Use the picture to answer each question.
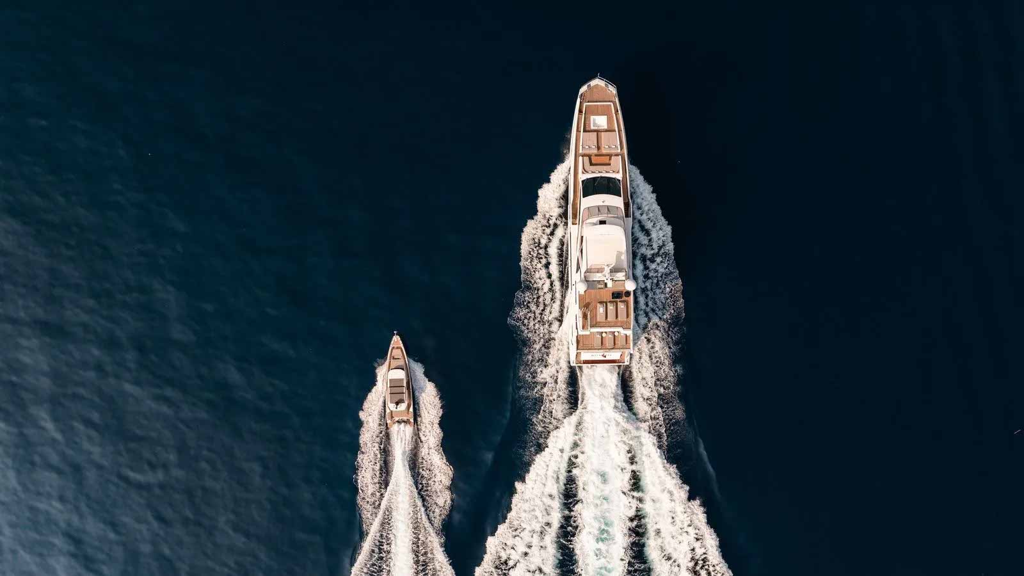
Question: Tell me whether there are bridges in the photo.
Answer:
No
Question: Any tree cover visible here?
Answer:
No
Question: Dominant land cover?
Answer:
water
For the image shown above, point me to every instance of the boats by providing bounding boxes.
[385,332,414,428]
[569,68,636,366]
